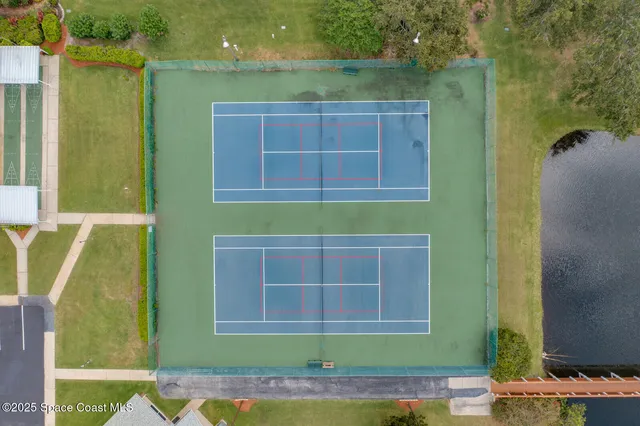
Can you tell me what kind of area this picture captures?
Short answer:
sports ground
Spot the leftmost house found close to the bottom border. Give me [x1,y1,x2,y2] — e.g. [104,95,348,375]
[103,392,174,426]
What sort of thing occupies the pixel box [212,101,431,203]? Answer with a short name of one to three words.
tennis court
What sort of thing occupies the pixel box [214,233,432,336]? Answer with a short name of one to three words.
tennis court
